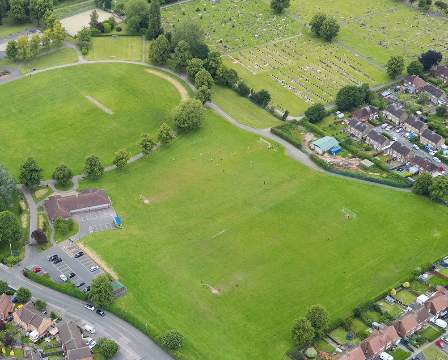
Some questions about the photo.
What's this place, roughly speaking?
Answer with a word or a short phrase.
sports ground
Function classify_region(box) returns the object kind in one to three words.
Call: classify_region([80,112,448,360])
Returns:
sports field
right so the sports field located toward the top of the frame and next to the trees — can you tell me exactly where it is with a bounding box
[83,36,142,60]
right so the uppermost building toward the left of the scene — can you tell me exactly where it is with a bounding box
[45,192,118,231]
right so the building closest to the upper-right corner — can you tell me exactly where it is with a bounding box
[428,67,448,91]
